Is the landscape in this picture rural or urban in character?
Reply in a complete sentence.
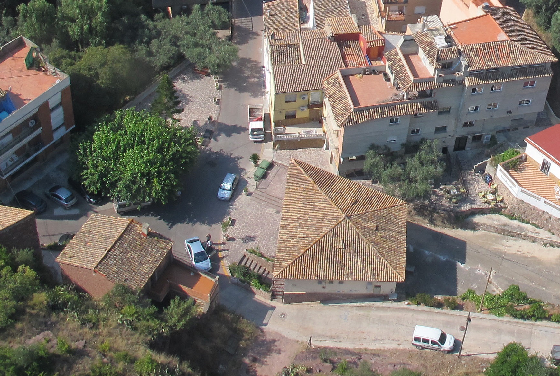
The area shown here is urban.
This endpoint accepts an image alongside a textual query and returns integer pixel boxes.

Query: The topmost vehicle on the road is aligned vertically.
[248,98,265,137]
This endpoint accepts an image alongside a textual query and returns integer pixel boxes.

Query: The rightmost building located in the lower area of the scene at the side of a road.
[268,157,407,301]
